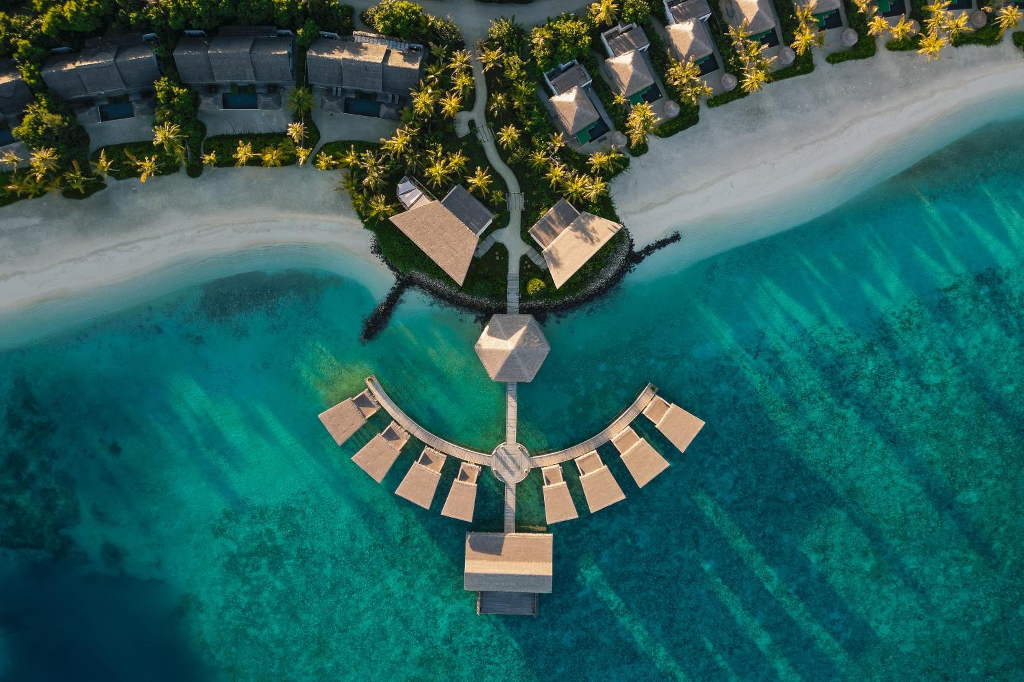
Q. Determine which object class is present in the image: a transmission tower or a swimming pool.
swimming pool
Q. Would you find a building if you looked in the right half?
Yes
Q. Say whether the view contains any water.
Yes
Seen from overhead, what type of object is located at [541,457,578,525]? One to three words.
house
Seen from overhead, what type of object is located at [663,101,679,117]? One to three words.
umbrella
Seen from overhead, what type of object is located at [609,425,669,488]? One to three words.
house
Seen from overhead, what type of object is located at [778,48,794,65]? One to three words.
umbrella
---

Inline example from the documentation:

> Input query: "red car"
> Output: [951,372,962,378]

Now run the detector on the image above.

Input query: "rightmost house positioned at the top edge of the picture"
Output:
[307,28,425,101]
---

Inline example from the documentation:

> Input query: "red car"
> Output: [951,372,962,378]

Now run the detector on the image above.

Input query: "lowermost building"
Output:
[464,530,553,616]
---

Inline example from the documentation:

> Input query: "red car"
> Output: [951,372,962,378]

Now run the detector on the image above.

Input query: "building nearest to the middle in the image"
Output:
[475,314,551,383]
